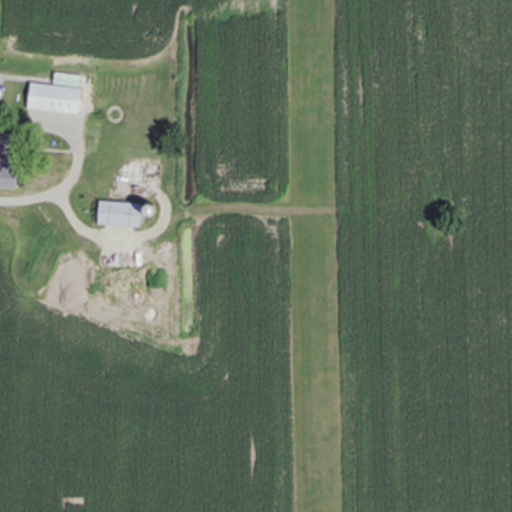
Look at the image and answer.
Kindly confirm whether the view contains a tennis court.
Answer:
No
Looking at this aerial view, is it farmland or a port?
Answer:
farmland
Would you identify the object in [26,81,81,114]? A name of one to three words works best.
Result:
barn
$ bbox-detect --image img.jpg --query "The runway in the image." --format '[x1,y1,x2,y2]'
[288,0,342,512]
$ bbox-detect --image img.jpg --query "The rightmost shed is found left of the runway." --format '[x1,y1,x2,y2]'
[97,200,142,228]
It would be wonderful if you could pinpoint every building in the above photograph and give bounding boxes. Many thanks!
[26,81,81,114]
[0,130,16,190]
[97,200,142,228]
